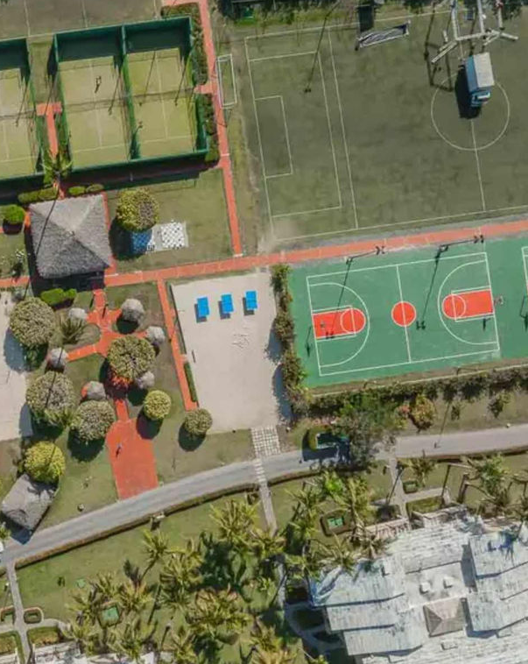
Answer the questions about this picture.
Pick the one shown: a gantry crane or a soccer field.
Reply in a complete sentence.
The image shows a soccer field.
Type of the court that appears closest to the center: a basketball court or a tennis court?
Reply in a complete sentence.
Looking closely, the court that appears closest to the center is a basketball court.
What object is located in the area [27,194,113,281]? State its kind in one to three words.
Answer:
building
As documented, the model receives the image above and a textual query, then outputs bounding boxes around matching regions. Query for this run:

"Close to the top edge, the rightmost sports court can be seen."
[118,27,199,159]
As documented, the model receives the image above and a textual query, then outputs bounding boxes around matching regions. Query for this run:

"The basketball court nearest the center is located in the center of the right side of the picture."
[306,253,505,375]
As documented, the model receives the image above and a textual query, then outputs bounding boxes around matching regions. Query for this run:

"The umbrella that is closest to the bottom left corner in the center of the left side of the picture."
[83,379,105,402]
